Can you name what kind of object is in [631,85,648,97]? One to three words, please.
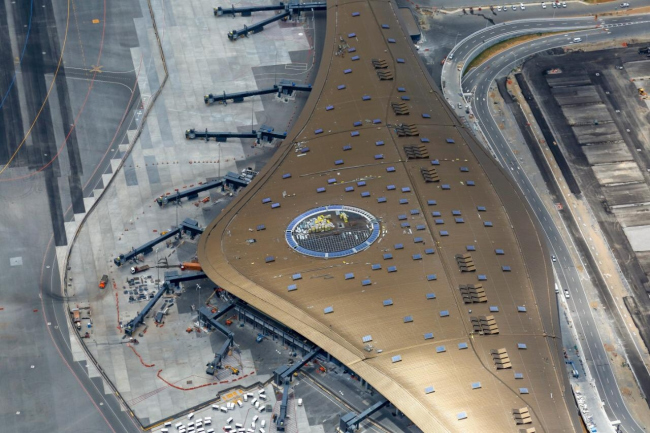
vehicle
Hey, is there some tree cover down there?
No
